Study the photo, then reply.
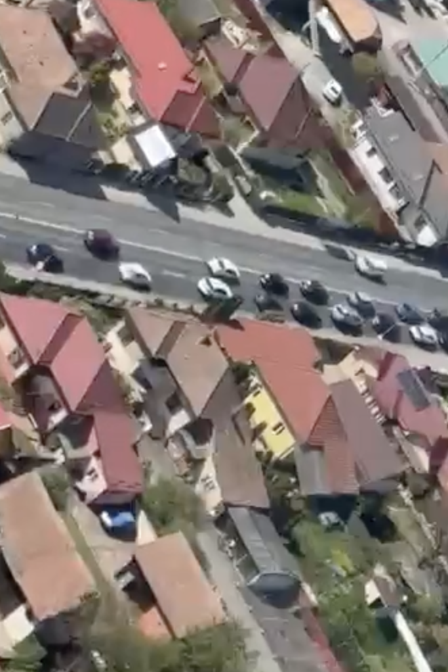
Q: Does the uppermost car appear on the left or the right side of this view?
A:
right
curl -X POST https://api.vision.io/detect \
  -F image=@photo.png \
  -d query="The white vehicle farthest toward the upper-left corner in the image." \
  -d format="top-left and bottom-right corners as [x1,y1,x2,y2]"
[115,264,152,289]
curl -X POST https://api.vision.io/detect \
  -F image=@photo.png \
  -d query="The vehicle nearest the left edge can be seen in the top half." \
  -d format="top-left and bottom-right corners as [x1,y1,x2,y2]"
[23,247,64,272]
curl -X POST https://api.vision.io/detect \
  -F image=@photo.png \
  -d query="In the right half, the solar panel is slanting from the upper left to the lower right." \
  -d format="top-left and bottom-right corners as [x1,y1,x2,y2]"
[398,371,431,411]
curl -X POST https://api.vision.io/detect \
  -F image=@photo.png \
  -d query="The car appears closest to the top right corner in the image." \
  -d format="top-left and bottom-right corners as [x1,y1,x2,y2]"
[319,75,344,106]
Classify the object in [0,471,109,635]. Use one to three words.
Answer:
house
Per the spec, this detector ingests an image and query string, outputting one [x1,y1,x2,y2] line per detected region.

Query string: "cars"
[435,332,448,352]
[250,291,284,314]
[23,247,64,272]
[344,294,375,315]
[195,277,232,302]
[367,318,399,339]
[204,258,240,282]
[407,327,437,348]
[328,303,364,328]
[297,280,332,306]
[287,302,324,328]
[392,303,426,324]
[319,75,344,106]
[257,273,290,295]
[81,230,122,257]
[424,311,448,332]
[353,255,388,278]
[115,264,152,289]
